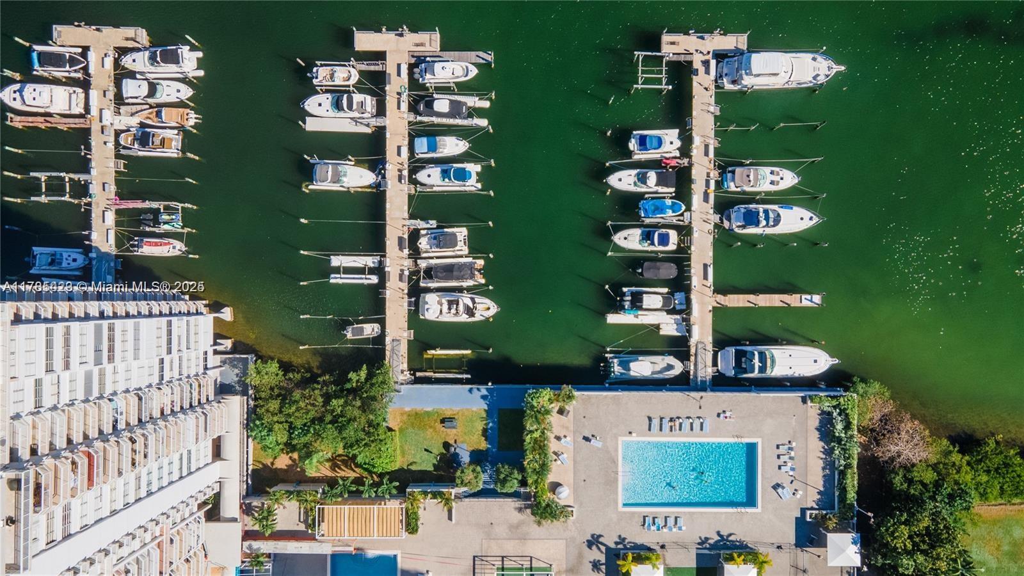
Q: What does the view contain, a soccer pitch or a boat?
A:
boat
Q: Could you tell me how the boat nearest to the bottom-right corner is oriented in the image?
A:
from left to right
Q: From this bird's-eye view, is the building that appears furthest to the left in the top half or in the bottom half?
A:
bottom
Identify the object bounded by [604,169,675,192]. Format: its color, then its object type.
white boat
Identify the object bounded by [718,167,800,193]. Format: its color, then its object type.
white boat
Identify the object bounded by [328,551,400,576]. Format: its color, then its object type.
blue swimming pool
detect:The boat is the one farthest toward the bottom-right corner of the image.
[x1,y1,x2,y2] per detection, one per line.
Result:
[716,346,843,377]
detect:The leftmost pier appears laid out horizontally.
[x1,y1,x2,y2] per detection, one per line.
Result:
[8,114,91,128]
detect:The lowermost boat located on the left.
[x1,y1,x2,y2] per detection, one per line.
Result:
[340,324,382,339]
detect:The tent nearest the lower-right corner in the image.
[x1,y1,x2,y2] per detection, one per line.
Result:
[821,527,861,567]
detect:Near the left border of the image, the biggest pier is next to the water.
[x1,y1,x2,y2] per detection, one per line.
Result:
[50,24,147,289]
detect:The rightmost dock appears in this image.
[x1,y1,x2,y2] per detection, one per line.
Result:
[713,294,822,306]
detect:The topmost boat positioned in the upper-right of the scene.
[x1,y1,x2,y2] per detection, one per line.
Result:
[715,52,848,94]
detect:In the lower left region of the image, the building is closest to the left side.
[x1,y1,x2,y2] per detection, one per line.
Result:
[0,284,230,576]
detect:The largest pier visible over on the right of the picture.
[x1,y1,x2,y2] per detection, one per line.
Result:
[661,32,748,384]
